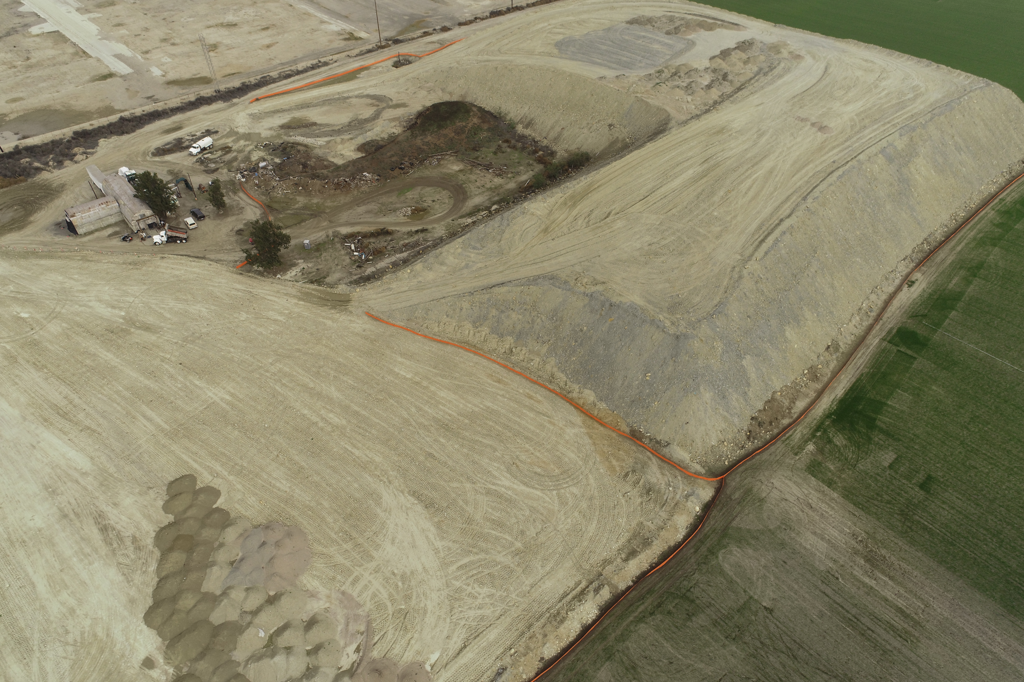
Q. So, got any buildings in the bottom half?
No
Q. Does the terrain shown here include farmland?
Yes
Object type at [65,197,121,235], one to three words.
building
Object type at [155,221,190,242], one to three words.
truck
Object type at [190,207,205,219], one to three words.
vehicle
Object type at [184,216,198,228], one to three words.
vehicle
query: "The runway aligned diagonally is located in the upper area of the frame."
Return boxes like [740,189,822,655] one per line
[18,0,172,77]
